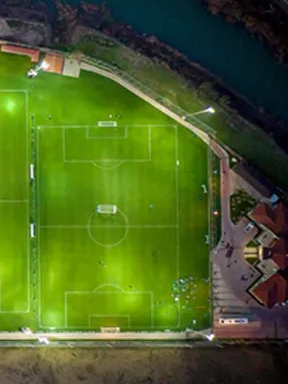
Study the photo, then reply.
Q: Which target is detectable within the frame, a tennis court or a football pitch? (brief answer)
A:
football pitch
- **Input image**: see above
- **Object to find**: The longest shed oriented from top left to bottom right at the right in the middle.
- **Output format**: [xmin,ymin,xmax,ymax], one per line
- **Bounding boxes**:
[229,161,278,200]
